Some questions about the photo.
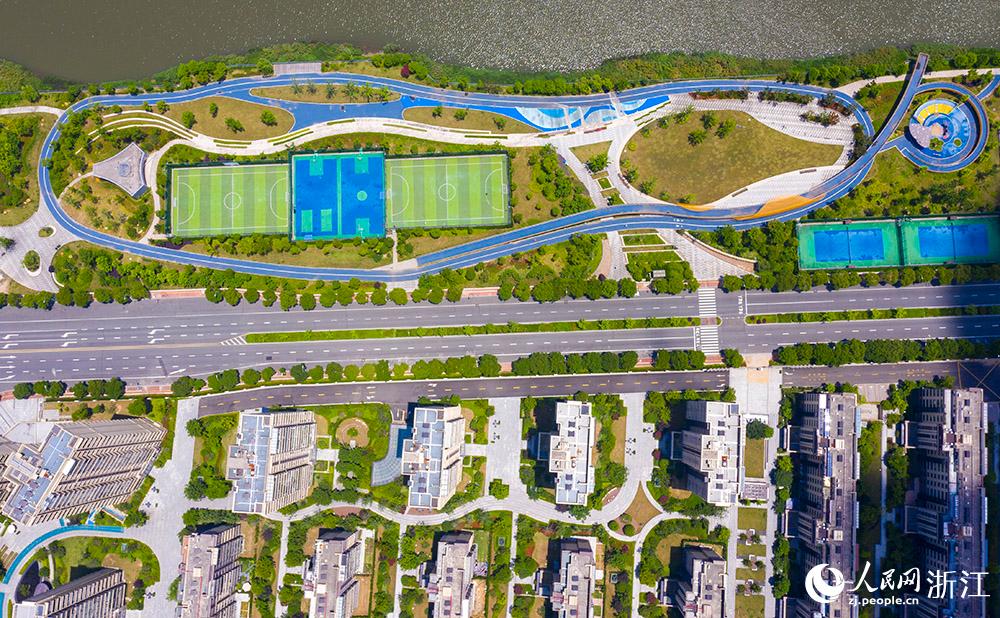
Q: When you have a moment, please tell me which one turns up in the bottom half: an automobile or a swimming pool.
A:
swimming pool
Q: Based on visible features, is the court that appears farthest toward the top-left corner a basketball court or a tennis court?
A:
basketball court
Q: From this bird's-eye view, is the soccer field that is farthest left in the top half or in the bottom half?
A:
top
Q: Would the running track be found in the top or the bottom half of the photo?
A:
top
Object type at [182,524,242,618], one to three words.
building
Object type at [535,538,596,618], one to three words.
building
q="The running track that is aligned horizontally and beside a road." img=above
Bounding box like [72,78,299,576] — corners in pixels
[39,71,876,280]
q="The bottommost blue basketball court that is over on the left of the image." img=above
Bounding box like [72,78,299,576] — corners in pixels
[288,147,387,242]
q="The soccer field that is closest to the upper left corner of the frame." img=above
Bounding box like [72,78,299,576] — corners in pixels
[164,158,289,239]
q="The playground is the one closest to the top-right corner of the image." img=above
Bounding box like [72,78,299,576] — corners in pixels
[907,100,971,161]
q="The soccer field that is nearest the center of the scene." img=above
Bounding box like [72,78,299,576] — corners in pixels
[384,148,511,230]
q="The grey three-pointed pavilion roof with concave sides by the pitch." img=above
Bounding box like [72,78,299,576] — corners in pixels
[93,143,147,196]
